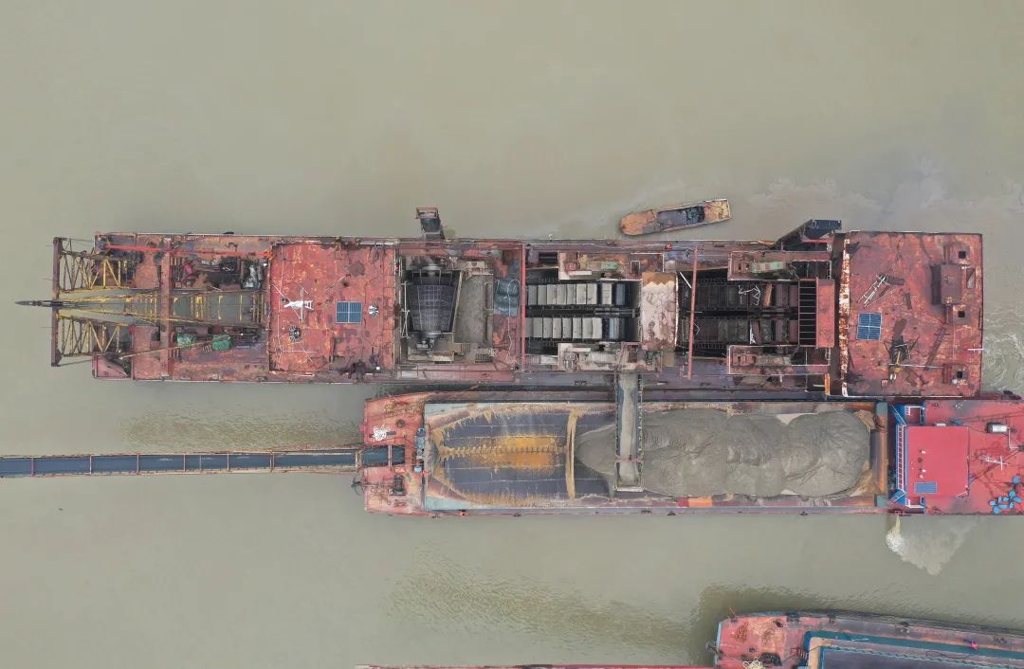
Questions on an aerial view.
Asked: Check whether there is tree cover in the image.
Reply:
No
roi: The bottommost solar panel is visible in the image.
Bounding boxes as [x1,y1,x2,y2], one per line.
[914,482,937,494]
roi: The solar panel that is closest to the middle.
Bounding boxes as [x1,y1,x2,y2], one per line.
[336,301,362,323]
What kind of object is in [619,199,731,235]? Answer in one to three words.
boat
